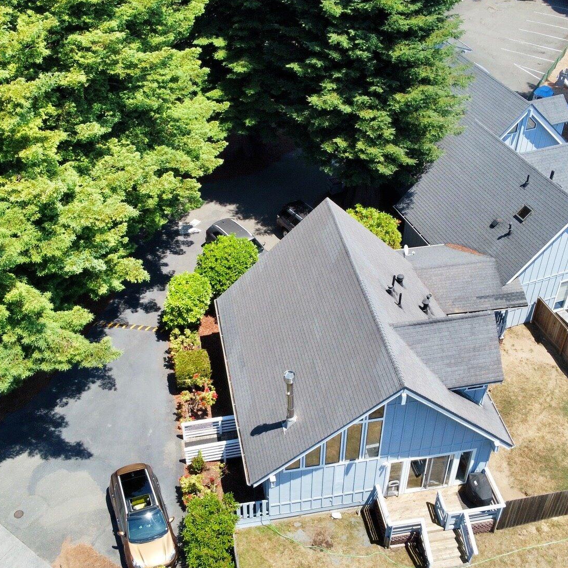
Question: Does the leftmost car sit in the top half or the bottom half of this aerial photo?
bottom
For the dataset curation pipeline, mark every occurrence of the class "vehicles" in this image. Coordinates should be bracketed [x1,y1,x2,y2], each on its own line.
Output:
[209,222,267,274]
[278,205,311,237]
[112,466,179,568]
